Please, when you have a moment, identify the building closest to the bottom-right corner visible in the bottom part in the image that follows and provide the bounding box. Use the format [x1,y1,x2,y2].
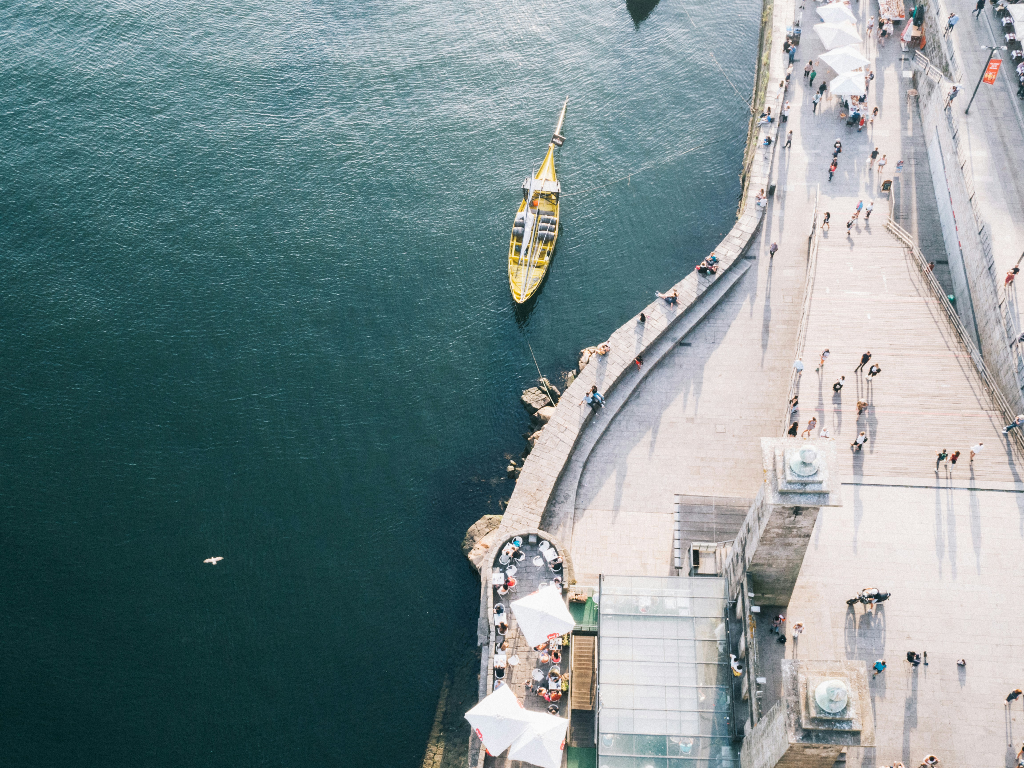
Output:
[592,569,740,768]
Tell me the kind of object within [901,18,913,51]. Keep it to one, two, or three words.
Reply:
umbrella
